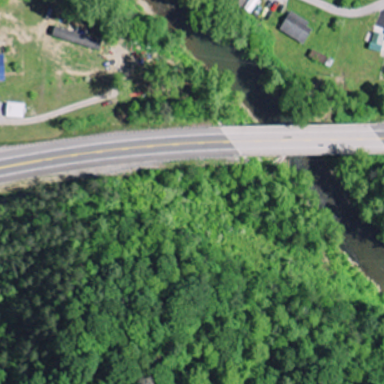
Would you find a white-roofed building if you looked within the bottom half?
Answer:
No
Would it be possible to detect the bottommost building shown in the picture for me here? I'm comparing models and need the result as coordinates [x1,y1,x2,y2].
[6,101,28,118]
